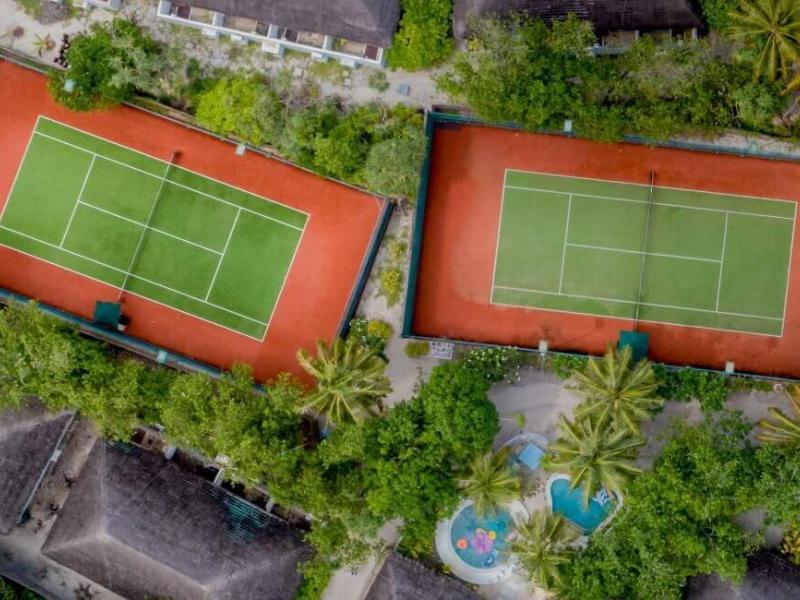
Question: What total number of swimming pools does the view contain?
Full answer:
The picture shows 2 swimming pools.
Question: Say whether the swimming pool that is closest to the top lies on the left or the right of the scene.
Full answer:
The swimming pool that is closest to the top is on the right side of the image.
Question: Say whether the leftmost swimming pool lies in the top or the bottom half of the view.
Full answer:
The bottom half of the photo is where the leftmost swimming pool is.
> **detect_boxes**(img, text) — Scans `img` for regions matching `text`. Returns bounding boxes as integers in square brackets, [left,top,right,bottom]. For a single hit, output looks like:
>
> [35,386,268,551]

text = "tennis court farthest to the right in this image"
[412,119,800,380]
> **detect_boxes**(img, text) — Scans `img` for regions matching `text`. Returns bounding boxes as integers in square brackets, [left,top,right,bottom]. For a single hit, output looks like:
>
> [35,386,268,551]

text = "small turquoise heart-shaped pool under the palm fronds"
[544,473,617,534]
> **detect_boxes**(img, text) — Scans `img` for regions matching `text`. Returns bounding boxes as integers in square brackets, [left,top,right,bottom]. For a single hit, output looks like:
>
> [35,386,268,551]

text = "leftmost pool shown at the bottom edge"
[434,487,540,584]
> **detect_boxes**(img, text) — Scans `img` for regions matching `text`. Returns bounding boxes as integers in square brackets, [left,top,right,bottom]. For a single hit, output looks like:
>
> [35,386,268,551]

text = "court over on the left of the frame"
[0,55,388,402]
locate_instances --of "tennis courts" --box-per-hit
[0,55,388,402]
[412,119,800,380]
